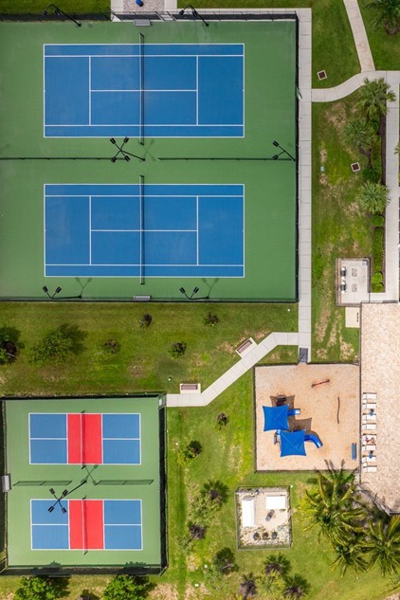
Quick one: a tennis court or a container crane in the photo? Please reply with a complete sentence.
Visible in the photo is a tennis court.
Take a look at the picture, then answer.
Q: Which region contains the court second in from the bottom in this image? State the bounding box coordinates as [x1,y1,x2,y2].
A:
[6,397,161,481]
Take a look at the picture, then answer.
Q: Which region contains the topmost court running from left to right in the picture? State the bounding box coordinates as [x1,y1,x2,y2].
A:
[0,20,298,159]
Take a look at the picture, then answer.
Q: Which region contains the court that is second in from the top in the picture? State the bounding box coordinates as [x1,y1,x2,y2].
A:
[0,159,298,301]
